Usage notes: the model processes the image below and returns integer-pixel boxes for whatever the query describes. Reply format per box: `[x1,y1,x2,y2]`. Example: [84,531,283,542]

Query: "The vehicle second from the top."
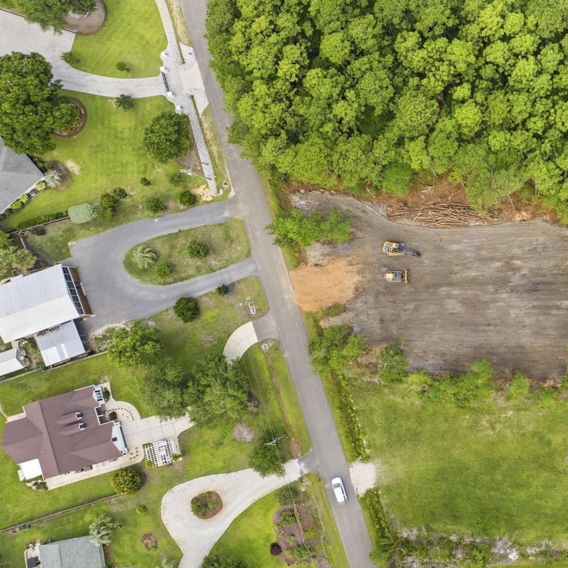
[388,269,409,285]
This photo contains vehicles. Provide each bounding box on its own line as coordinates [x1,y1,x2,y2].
[330,475,347,505]
[385,241,421,257]
[388,269,409,285]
